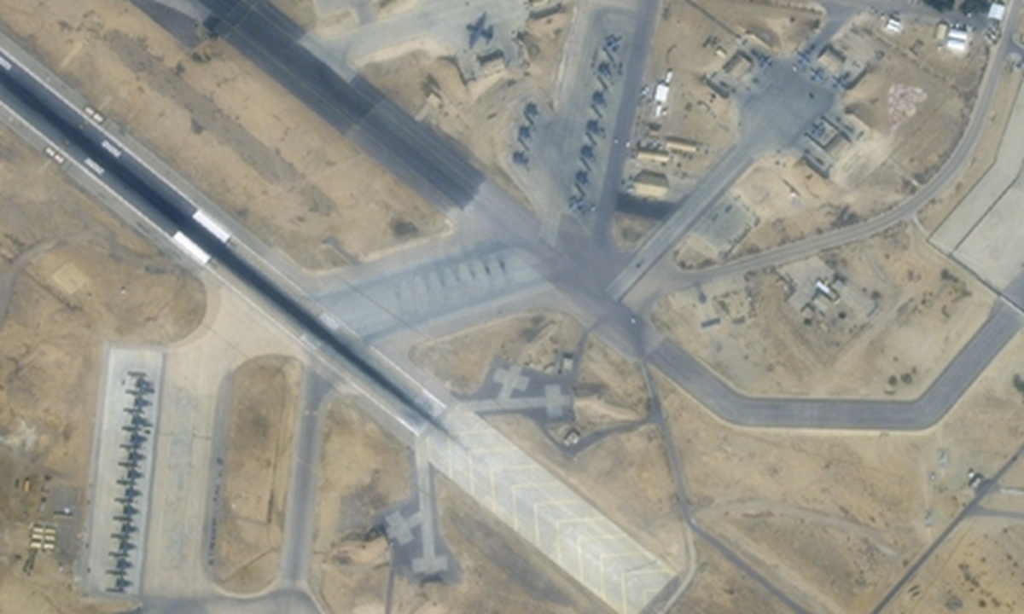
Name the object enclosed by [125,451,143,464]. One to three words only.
airplane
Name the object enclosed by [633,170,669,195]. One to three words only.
hangar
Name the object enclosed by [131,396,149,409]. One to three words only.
airplane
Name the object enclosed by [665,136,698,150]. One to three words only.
building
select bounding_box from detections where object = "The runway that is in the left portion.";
[0,47,445,437]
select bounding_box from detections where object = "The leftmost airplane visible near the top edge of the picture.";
[466,11,493,47]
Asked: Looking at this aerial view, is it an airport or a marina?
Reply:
airport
